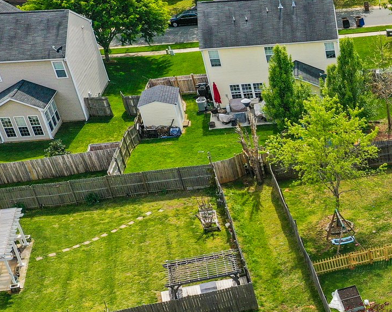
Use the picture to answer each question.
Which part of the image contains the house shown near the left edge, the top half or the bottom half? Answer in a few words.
top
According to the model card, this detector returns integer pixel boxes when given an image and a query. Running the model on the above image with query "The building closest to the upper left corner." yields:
[0,6,110,140]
